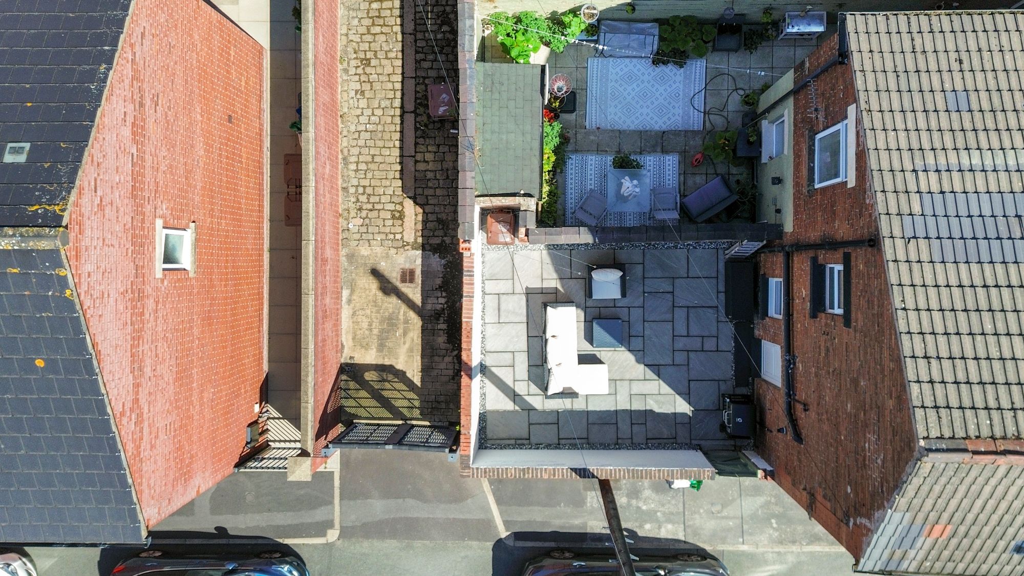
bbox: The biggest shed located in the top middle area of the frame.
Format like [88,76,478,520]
[477,64,542,200]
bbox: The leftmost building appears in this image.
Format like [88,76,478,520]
[0,0,269,549]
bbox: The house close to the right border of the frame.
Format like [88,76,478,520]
[737,0,1024,576]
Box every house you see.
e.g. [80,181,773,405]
[0,0,269,549]
[737,0,1024,576]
